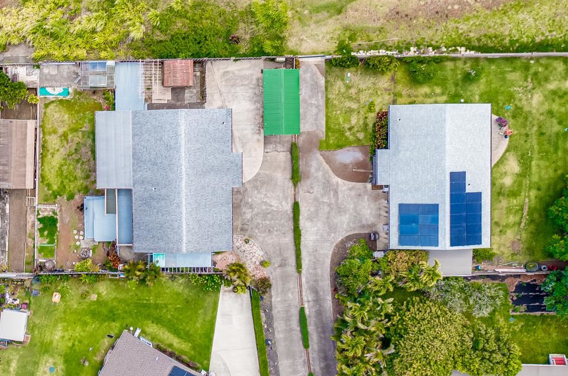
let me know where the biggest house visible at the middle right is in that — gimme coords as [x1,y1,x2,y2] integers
[373,103,491,276]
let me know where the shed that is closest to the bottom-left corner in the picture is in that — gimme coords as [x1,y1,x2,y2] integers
[0,308,30,343]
